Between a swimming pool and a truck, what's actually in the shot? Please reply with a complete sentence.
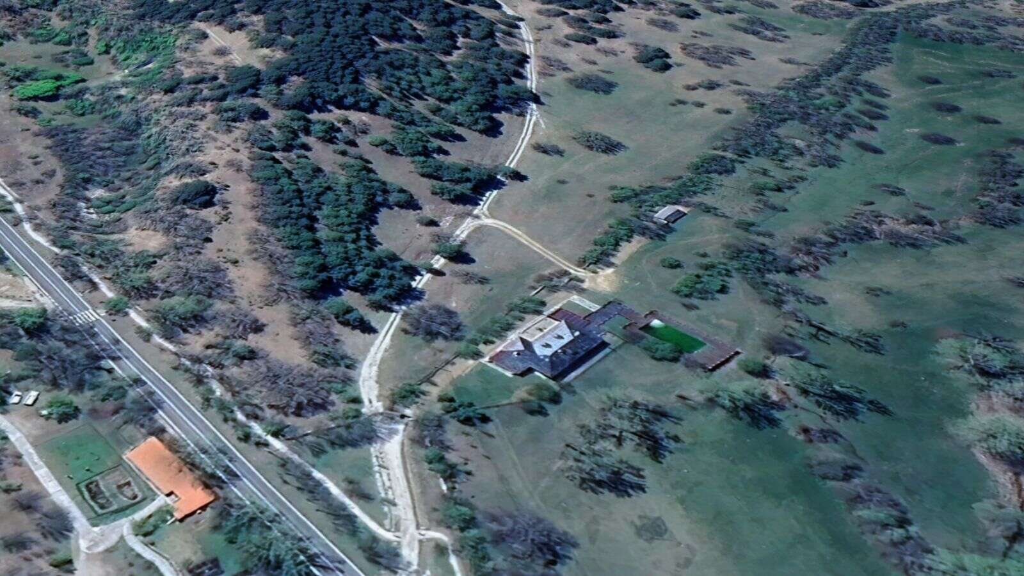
It is a swimming pool that can be seen here.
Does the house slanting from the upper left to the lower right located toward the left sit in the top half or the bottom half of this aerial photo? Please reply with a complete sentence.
You can find the house slanting from the upper left to the lower right located toward the left in the bottom half.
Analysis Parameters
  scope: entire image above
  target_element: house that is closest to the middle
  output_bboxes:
[490,306,605,380]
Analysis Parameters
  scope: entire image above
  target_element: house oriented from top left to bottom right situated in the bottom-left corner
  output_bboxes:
[123,437,215,526]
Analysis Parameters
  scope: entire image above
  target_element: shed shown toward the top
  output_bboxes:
[649,209,686,233]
